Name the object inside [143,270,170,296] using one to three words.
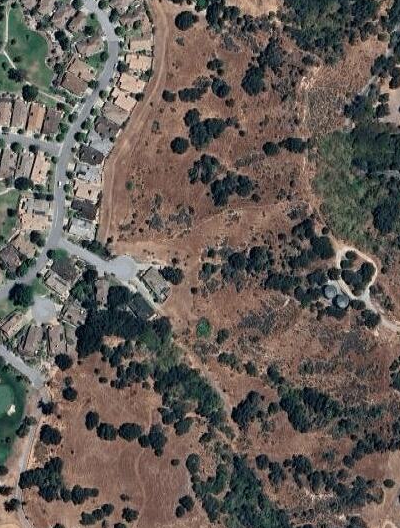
house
